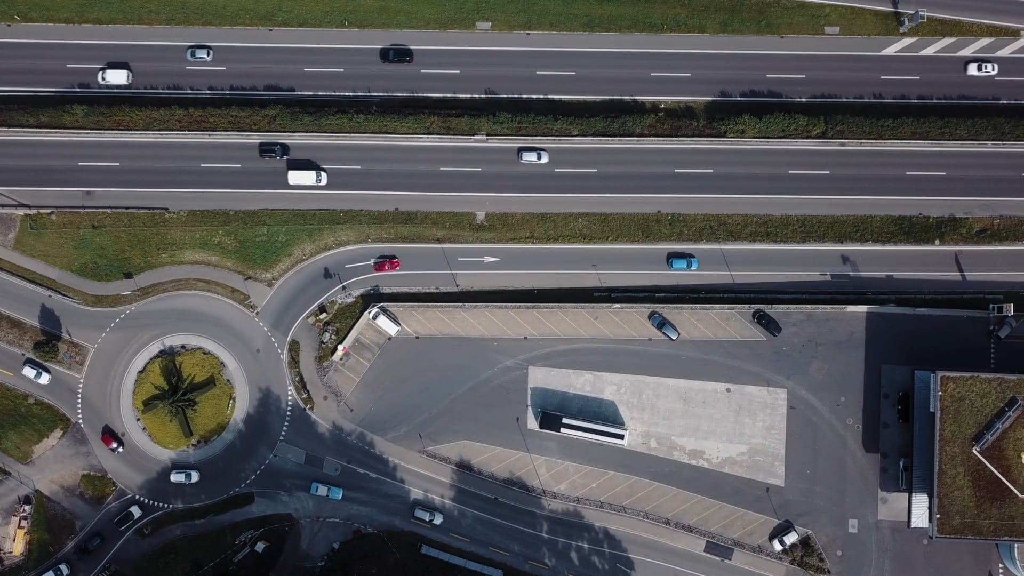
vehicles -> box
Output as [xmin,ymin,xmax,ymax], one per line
[966,61,997,76]
[39,560,72,576]
[170,469,201,484]
[285,170,327,185]
[381,47,413,63]
[519,149,549,163]
[752,310,782,337]
[373,258,401,271]
[259,144,290,159]
[770,525,800,549]
[186,46,214,61]
[650,312,679,340]
[368,307,403,339]
[310,482,343,499]
[534,406,629,445]
[411,505,443,525]
[110,502,145,532]
[101,431,124,455]
[20,363,53,384]
[98,68,133,84]
[669,256,697,271]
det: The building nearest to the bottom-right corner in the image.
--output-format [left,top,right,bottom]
[922,364,1024,543]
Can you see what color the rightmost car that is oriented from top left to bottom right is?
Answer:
black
